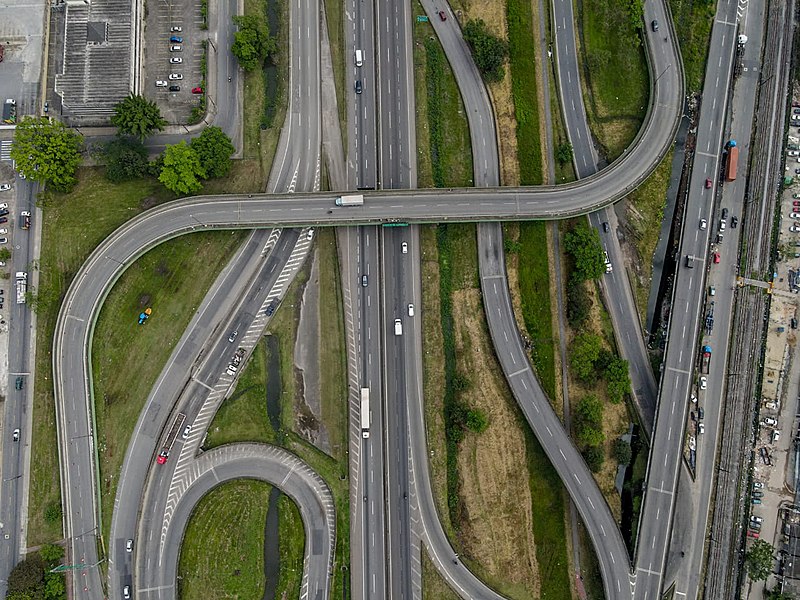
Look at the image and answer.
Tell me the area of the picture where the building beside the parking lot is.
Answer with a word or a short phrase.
top left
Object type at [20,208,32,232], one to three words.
vehicle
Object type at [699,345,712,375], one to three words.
vehicle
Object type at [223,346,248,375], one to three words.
truck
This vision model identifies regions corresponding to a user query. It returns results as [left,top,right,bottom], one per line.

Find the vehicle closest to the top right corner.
[735,36,748,58]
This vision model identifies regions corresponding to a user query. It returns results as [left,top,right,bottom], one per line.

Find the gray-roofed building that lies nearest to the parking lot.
[55,0,143,131]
